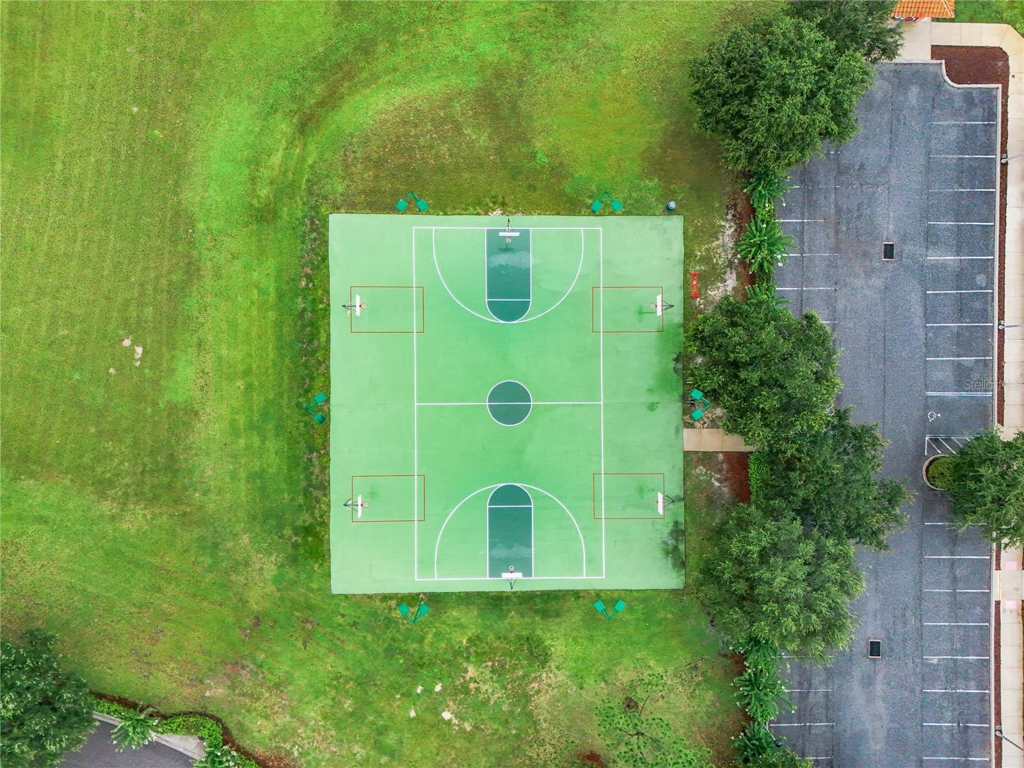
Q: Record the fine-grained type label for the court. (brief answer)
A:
basketball court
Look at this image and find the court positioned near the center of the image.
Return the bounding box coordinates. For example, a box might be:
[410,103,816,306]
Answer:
[328,213,685,595]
